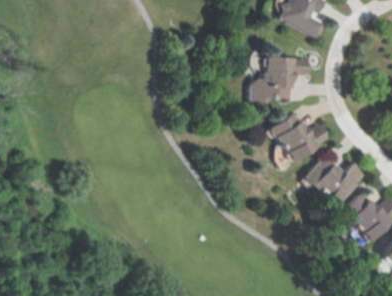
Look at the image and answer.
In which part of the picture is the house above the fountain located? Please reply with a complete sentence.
The house above the fountain appears toward the top right of the photo.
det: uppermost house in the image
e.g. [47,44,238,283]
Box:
[274,0,324,38]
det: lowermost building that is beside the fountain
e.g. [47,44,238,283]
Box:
[244,52,310,105]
